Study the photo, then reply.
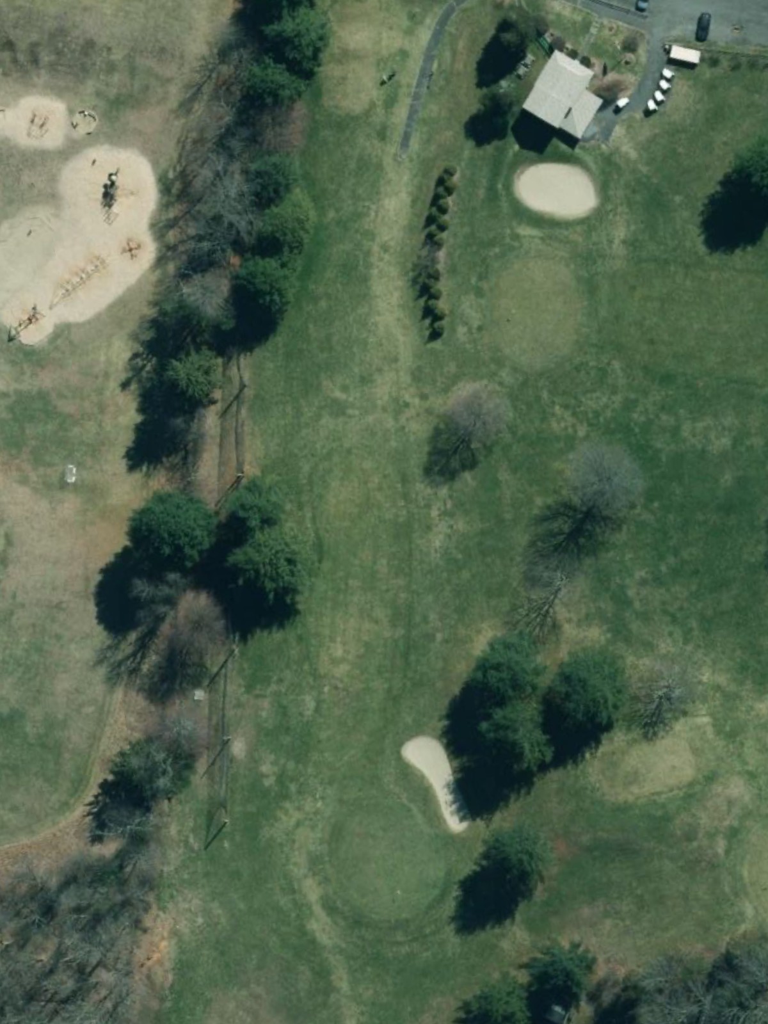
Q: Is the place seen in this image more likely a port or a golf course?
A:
golf course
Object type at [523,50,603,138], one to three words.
building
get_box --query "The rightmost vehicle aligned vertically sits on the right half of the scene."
[696,12,711,42]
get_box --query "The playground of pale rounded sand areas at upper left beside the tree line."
[0,91,159,348]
